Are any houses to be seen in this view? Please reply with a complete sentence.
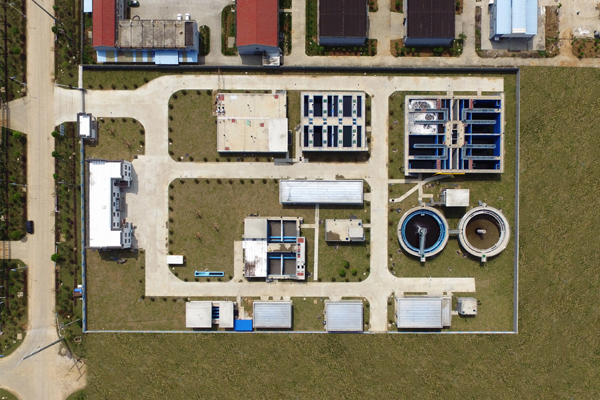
Yes, there is a house in the image.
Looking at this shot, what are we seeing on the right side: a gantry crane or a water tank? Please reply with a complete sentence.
It is a water tank that can be seen on the right side.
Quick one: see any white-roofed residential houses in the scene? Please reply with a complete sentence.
Yes, a white-roofed residential house is visible in the scene.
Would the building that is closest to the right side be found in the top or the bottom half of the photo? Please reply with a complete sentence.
The building that is closest to the right side sits in the top half of the picture.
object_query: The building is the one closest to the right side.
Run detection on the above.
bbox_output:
[490,0,537,42]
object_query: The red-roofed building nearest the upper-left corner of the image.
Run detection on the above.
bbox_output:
[93,0,122,50]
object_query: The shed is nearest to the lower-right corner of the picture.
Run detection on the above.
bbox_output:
[455,297,478,315]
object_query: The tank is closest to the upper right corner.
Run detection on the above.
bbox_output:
[404,95,506,176]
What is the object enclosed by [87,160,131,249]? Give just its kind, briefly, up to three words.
building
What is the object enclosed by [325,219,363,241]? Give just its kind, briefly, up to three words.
shed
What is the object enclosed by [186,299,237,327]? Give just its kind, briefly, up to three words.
house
